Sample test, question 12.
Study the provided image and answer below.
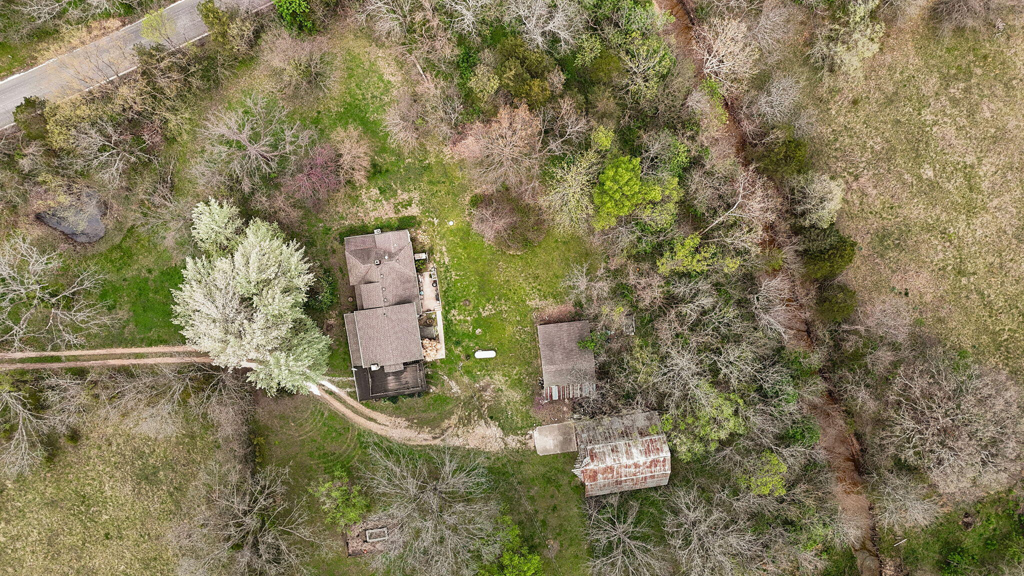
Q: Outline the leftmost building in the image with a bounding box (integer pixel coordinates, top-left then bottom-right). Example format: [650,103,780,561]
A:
[343,229,427,401]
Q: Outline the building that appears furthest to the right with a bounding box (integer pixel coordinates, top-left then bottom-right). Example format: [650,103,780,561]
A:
[571,410,671,497]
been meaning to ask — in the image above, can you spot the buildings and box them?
[343,229,427,401]
[571,410,671,497]
[537,320,596,402]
